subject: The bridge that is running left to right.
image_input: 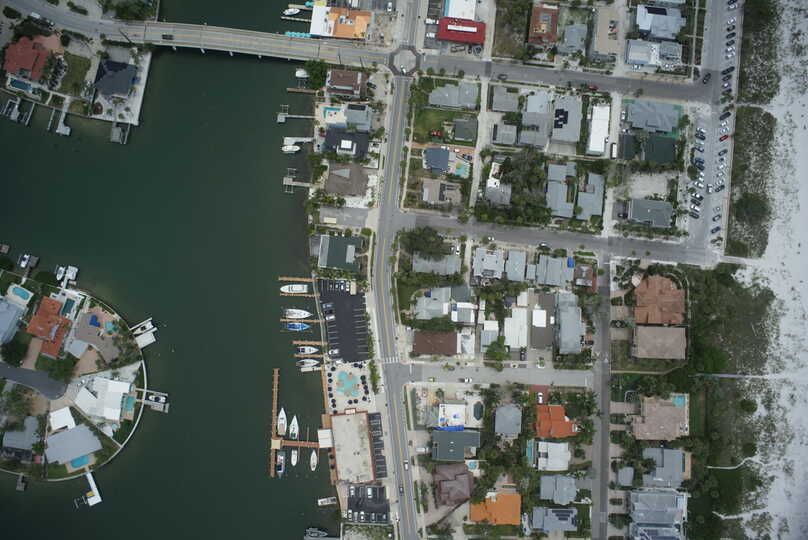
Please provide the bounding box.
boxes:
[126,22,391,72]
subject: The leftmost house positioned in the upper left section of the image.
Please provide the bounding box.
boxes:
[5,36,55,82]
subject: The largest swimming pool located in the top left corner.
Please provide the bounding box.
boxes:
[9,77,32,92]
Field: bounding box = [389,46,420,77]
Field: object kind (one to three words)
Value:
roundabout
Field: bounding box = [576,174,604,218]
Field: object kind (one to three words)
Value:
house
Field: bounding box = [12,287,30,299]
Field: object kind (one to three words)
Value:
swimming pool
